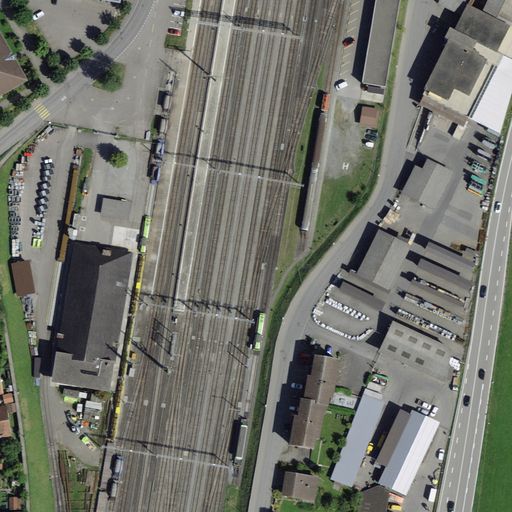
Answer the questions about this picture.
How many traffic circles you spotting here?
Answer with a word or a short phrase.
zero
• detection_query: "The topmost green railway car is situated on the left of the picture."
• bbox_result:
[139,214,152,254]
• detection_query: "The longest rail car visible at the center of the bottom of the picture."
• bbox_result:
[234,418,248,462]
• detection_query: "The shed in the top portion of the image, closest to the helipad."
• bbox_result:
[360,106,379,128]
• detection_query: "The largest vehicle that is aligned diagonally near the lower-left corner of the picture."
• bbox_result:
[79,433,99,452]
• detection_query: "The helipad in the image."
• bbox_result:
[326,100,366,178]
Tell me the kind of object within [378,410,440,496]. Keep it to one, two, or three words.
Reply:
building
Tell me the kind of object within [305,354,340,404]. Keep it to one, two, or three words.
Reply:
house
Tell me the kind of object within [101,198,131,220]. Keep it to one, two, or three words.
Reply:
shed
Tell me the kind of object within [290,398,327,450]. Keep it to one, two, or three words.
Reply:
house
